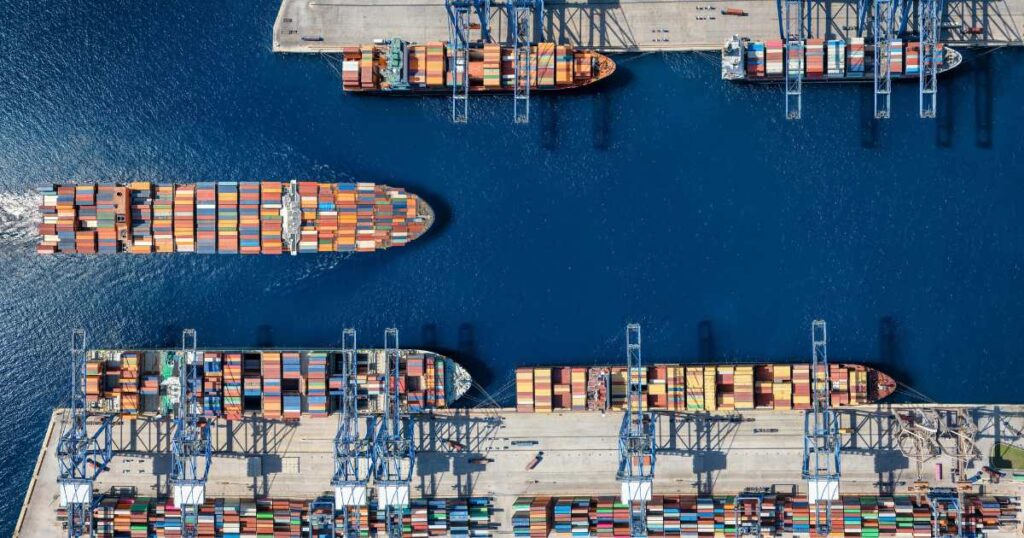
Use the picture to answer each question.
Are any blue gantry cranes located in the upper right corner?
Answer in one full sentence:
Yes, you'll find a blue gantry crane in the upper right corner.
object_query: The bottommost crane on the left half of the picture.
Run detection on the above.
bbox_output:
[309,493,335,538]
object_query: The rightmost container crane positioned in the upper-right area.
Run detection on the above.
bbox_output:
[891,0,952,118]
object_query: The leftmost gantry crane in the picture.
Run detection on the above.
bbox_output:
[41,331,130,534]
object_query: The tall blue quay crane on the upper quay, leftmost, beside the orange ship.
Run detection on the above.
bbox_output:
[441,0,491,123]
